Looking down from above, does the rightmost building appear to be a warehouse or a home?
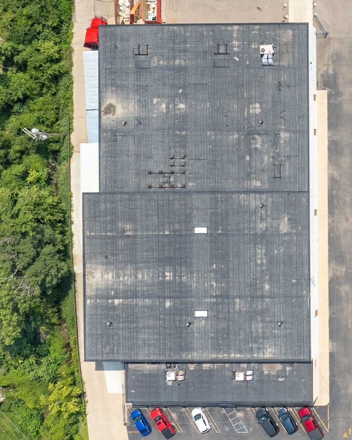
warehouse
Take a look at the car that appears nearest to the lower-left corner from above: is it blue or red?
blue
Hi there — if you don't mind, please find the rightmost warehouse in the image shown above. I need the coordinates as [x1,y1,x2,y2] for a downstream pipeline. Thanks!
[81,23,319,406]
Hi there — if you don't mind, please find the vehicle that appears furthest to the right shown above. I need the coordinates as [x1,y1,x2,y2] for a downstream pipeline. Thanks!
[298,407,325,440]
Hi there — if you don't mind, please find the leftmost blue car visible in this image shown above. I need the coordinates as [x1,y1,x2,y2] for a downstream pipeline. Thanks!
[131,408,152,438]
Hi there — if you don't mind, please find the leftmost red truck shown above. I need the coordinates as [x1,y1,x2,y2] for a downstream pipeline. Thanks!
[79,16,110,50]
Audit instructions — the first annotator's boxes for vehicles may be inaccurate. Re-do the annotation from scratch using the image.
[257,407,280,438]
[191,407,211,436]
[298,407,325,440]
[279,407,299,436]
[131,408,152,438]
[150,407,177,440]
[79,16,110,50]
